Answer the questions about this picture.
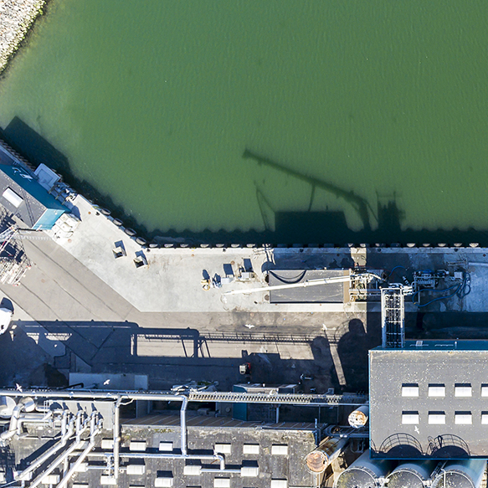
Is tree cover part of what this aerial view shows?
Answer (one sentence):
No, tree cover can't be seen anywhere here.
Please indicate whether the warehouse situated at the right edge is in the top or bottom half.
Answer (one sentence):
You can find the warehouse situated at the right edge in the bottom half.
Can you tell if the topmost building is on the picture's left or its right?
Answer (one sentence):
It is on the left.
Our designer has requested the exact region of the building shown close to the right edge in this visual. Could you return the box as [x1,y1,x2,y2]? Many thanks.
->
[369,339,488,459]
